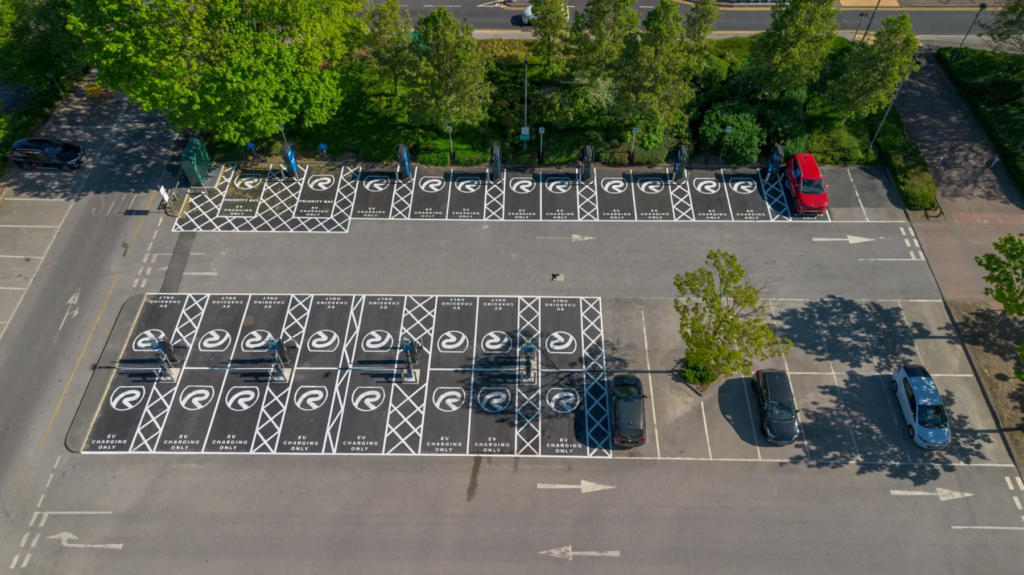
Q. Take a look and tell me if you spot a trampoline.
No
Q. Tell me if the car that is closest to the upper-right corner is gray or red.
red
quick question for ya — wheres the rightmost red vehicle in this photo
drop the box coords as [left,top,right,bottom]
[788,153,832,209]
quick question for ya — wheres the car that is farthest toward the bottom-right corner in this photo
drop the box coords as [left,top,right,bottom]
[896,369,961,450]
